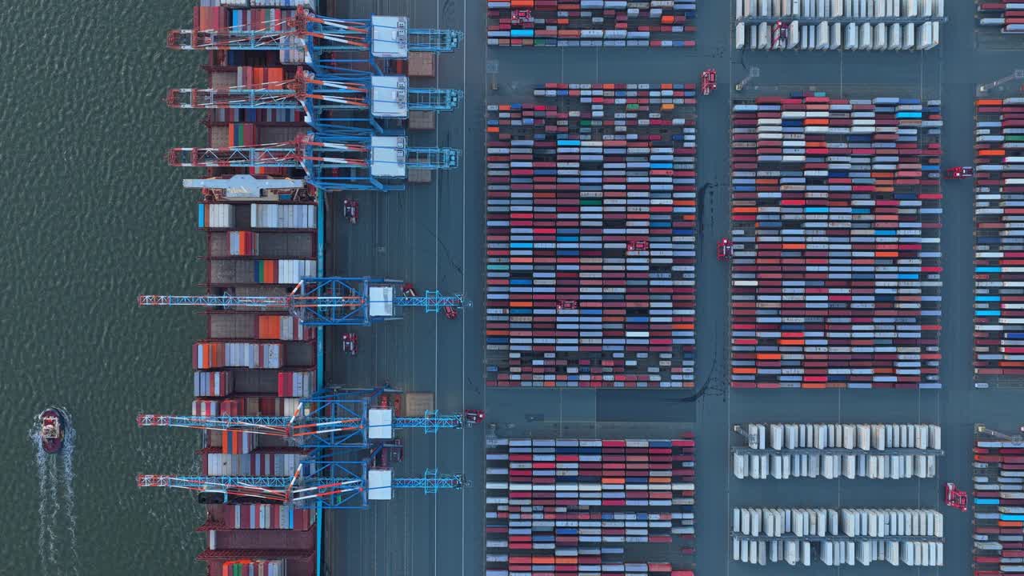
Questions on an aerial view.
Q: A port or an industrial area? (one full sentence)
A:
This looks like a port.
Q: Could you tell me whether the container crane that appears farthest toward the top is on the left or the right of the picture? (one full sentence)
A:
The container crane that appears farthest toward the top appears in the left half of the scene.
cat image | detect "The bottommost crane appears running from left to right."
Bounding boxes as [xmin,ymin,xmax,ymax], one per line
[135,434,467,510]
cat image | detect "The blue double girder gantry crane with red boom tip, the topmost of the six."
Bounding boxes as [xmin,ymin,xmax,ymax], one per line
[161,8,462,88]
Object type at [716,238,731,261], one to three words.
work vehicle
